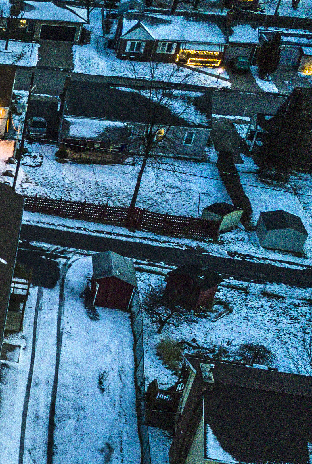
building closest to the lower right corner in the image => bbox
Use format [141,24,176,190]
[159,333,312,464]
